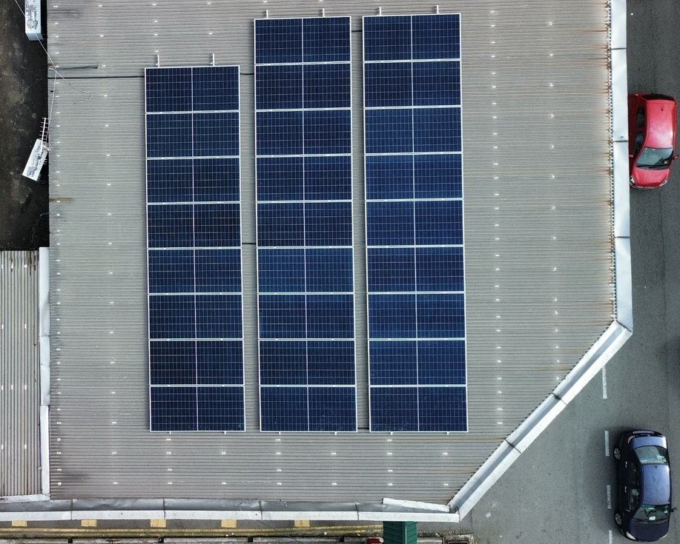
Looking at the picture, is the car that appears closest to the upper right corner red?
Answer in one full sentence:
Yes, red is the color of the car that appears closest to the upper right corner.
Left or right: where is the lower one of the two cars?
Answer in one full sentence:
You can find the lower one of the two cars on the right side of the picture.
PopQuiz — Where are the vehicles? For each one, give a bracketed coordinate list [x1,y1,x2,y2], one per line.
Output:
[627,94,674,189]
[613,427,679,543]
